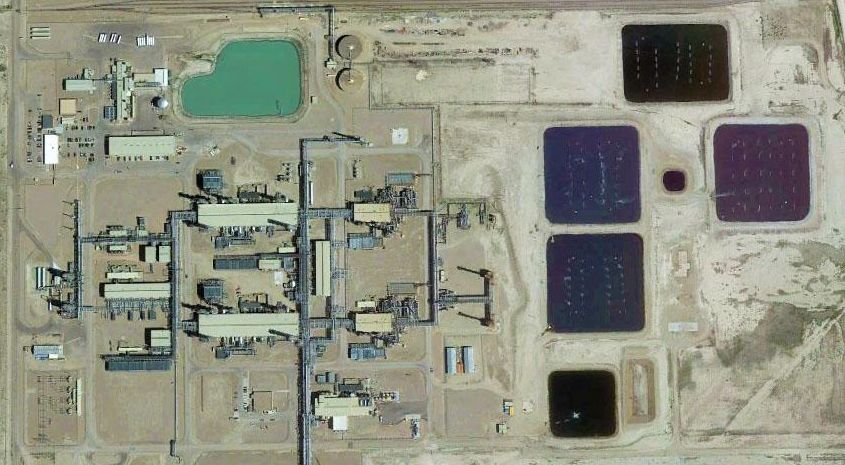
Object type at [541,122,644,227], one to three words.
pond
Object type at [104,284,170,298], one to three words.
building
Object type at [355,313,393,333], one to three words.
building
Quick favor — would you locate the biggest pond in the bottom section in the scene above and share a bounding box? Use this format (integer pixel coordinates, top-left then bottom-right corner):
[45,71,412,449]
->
[543,230,649,336]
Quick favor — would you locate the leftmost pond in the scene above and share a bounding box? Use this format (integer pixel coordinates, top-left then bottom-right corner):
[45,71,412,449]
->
[177,36,304,121]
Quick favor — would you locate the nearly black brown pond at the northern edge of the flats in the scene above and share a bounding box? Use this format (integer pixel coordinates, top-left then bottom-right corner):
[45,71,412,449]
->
[618,20,734,107]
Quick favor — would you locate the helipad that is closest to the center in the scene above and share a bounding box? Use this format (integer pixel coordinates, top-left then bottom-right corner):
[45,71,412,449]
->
[392,129,408,144]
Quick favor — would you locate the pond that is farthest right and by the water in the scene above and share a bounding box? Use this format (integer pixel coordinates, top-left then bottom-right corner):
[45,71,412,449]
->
[710,120,815,227]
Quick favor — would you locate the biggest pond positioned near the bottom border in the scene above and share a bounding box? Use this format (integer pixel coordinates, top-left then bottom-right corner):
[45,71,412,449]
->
[544,366,621,442]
